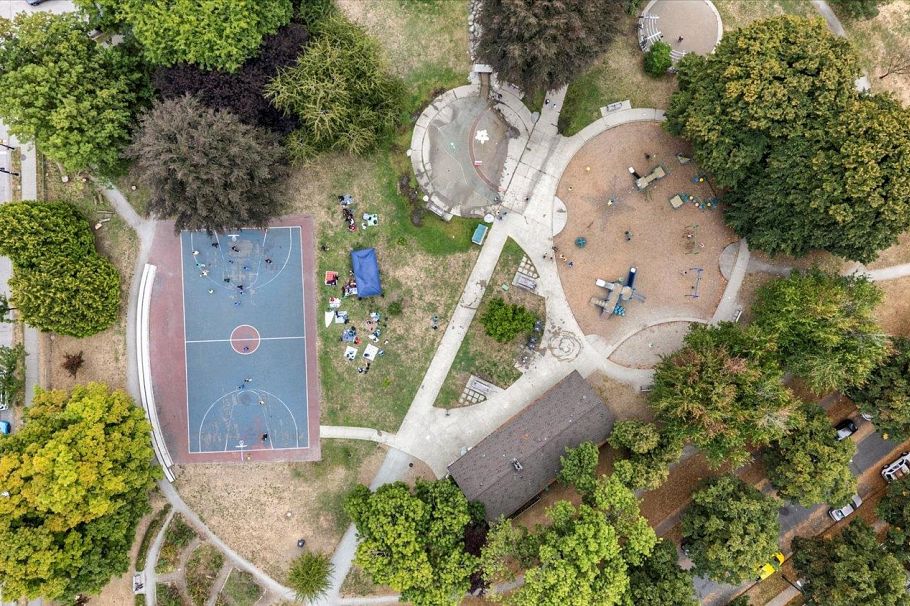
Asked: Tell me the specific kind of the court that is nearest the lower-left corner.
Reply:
basketball court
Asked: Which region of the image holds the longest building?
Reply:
bottom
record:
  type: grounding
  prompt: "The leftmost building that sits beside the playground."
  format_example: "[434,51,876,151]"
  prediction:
[447,369,613,530]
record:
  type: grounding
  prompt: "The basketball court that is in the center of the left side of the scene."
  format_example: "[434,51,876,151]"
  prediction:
[150,214,322,464]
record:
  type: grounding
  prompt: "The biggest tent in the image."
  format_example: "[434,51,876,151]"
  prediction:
[352,248,386,299]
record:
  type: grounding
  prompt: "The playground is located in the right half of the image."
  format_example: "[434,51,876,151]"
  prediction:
[555,121,746,345]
